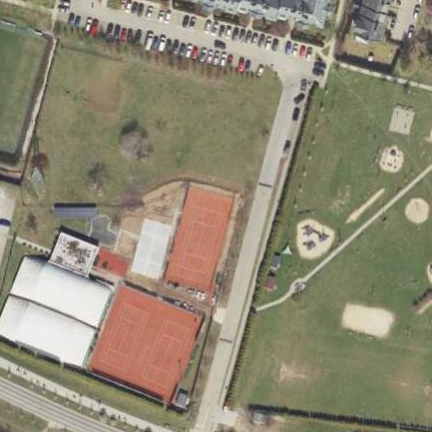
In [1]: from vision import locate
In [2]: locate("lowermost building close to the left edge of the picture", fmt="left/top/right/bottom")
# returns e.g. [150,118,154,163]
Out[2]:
[0,295,96,367]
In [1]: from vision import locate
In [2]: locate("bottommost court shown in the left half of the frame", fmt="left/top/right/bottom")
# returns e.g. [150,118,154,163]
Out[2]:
[88,285,201,404]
